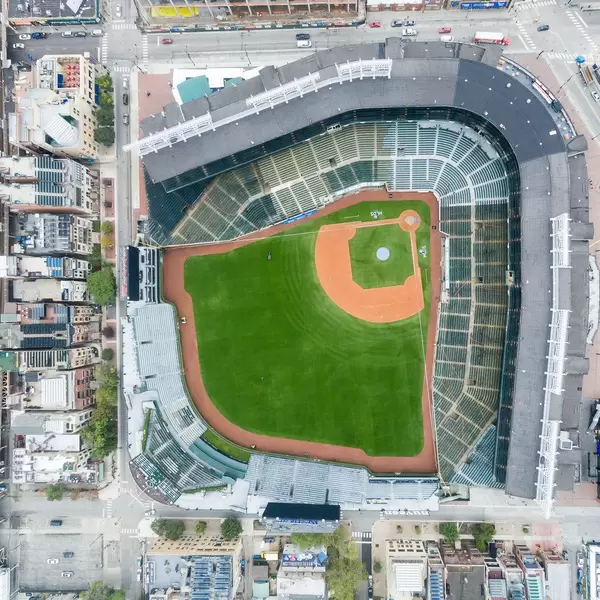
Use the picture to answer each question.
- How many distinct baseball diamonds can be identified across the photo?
1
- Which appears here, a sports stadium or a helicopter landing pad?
sports stadium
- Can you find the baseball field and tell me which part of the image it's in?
center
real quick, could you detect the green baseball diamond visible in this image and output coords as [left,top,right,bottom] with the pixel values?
[165,189,445,474]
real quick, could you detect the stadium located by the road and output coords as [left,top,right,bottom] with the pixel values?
[120,36,595,514]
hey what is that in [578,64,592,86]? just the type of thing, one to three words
vehicle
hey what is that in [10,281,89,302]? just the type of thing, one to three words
building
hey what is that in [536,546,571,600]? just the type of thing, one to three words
building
